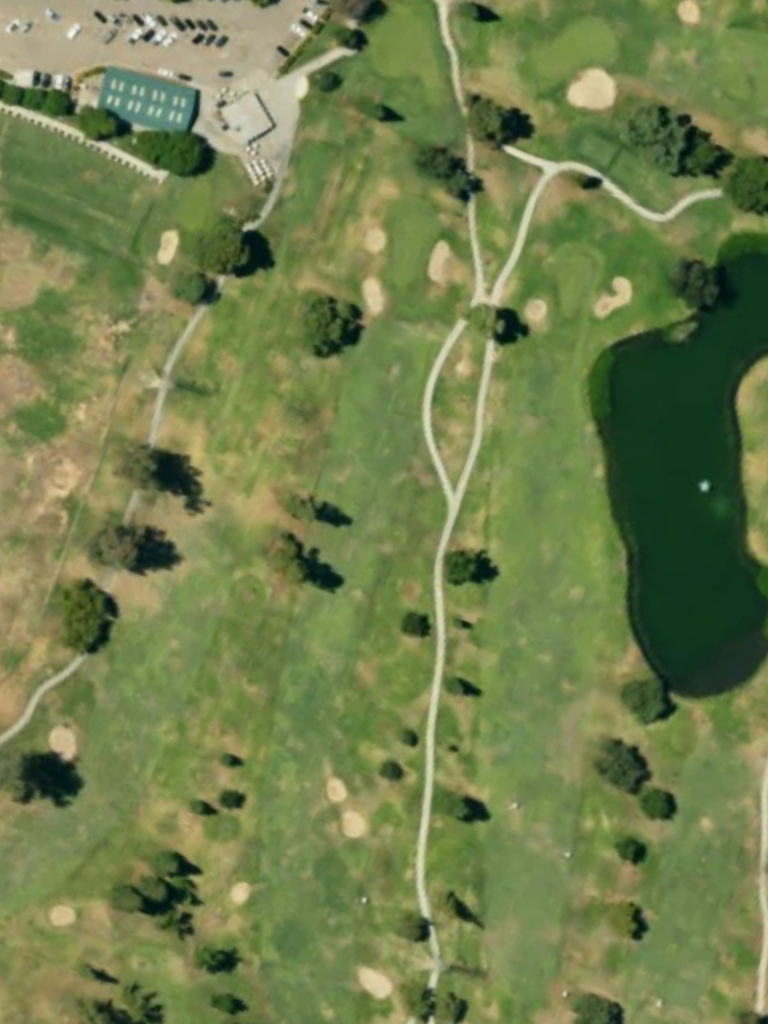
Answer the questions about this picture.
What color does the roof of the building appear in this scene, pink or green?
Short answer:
green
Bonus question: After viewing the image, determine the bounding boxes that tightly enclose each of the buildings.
[98,66,198,132]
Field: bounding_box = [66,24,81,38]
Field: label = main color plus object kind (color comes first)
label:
white vehicle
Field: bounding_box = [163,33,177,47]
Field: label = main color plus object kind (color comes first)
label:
white vehicle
